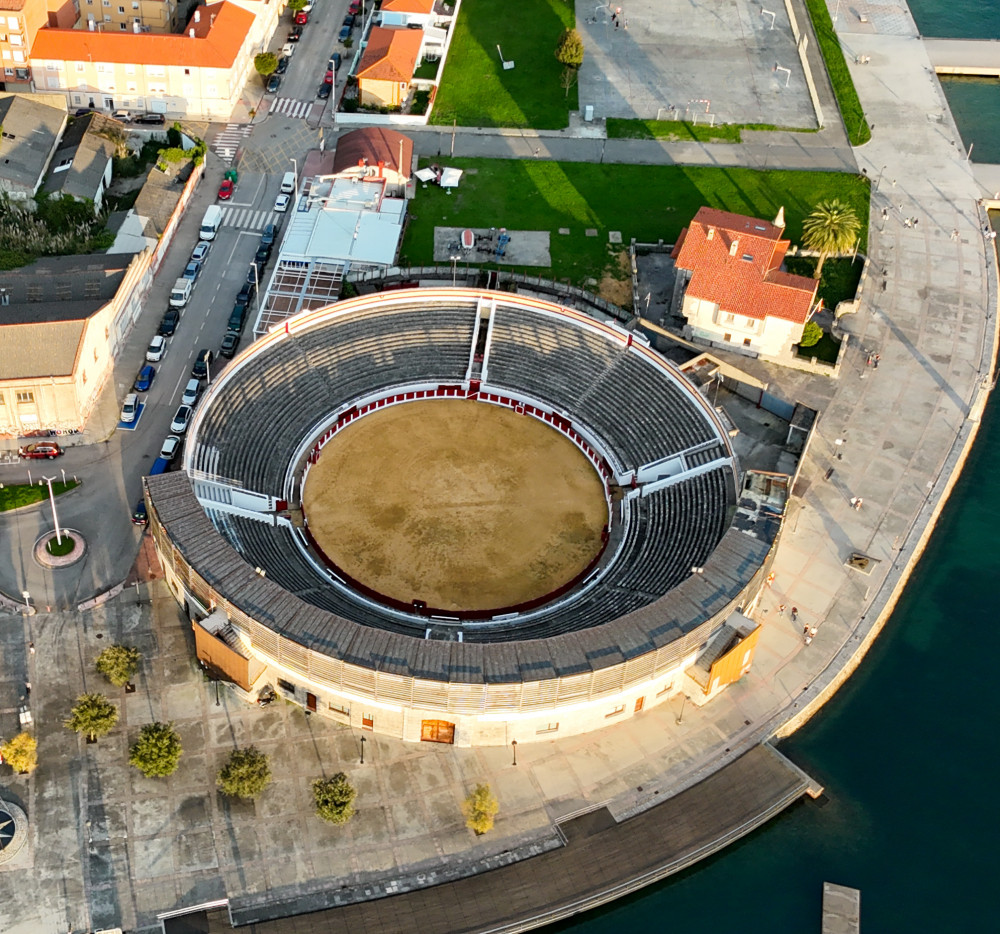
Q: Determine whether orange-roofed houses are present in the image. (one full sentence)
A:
Yes, the image includes an orange-roofed house.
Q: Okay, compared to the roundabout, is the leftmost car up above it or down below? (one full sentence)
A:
In the image, the leftmost car sits above the roundabout.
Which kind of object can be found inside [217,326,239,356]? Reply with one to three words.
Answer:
car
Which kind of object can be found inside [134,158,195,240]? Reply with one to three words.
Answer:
shed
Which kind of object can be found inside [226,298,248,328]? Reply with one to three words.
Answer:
car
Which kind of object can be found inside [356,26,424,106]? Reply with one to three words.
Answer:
house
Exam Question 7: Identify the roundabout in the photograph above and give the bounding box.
[30,526,90,571]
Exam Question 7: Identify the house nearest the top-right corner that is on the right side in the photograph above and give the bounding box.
[670,206,818,355]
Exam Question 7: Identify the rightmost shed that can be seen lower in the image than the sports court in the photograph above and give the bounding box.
[784,401,819,448]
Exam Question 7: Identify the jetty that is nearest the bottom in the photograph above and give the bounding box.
[819,882,859,934]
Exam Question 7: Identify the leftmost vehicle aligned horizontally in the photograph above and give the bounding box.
[20,438,62,458]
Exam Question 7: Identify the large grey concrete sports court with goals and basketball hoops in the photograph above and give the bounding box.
[573,0,815,124]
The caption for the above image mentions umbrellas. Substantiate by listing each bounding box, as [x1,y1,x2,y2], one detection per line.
[411,164,440,191]
[437,170,466,194]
